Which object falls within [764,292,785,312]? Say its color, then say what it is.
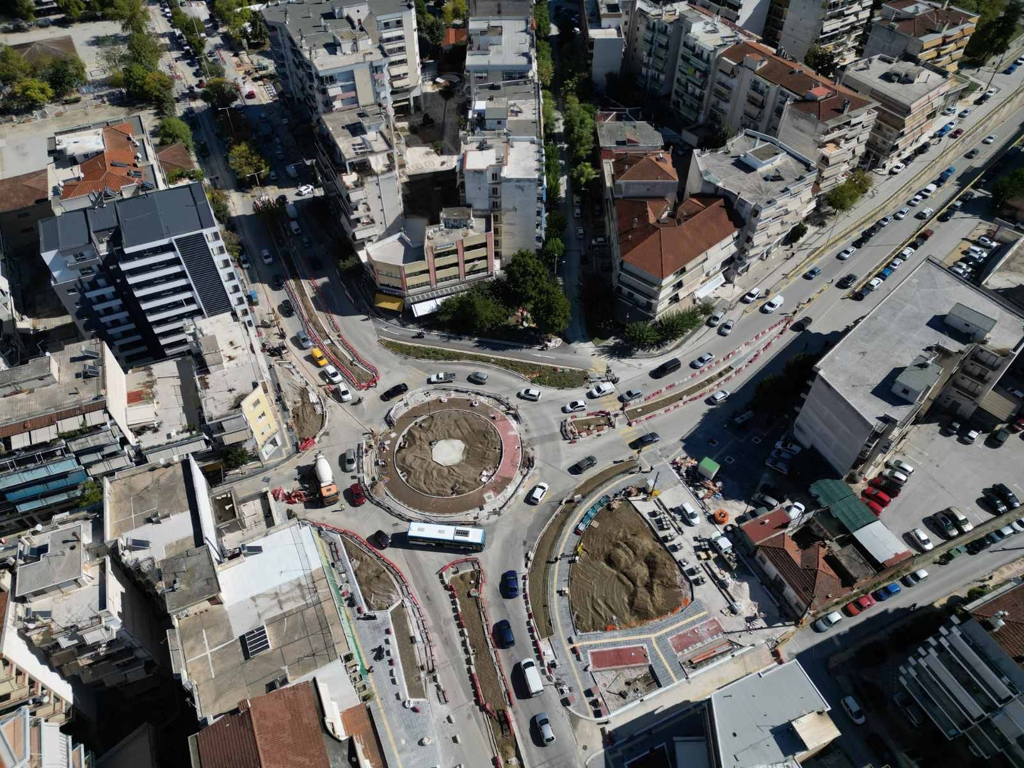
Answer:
white vehicle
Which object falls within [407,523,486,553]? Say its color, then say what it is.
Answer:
white bus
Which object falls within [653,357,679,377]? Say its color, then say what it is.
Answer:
black vehicle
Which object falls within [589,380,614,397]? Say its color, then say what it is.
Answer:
white car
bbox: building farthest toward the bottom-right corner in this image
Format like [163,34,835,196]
[893,581,1024,763]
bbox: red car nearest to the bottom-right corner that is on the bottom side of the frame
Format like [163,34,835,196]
[846,595,876,616]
